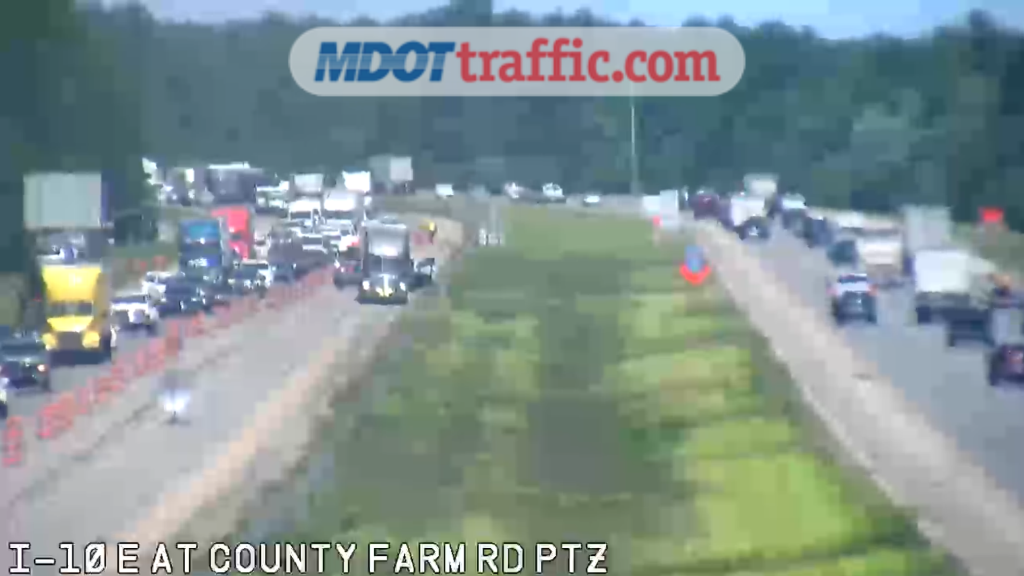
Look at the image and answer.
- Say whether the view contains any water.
No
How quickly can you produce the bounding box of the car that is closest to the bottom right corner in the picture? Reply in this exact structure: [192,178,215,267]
[981,340,1024,385]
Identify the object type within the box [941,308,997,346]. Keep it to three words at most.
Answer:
car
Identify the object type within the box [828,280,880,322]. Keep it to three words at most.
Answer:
car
